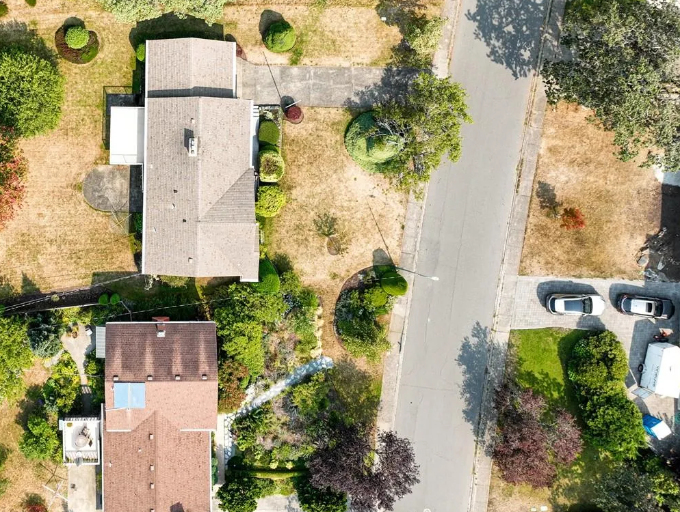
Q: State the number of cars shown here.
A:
2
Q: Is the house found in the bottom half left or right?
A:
left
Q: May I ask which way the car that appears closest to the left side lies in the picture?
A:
from left to right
